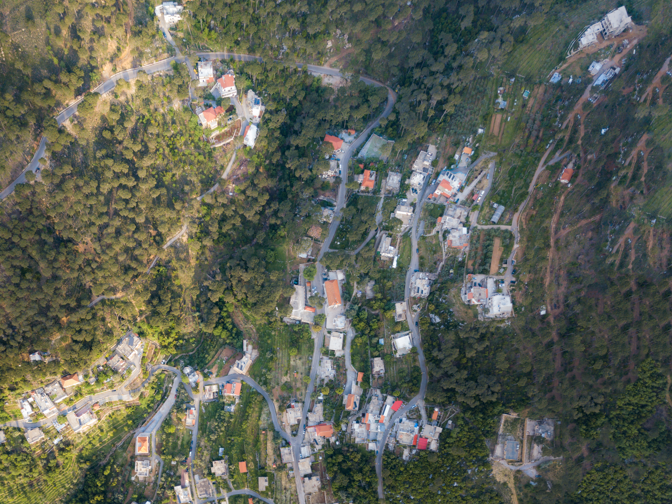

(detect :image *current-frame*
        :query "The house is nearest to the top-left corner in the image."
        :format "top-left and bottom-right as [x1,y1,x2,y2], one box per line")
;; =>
[155,2,185,26]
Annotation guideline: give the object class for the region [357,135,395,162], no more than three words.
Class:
sports court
